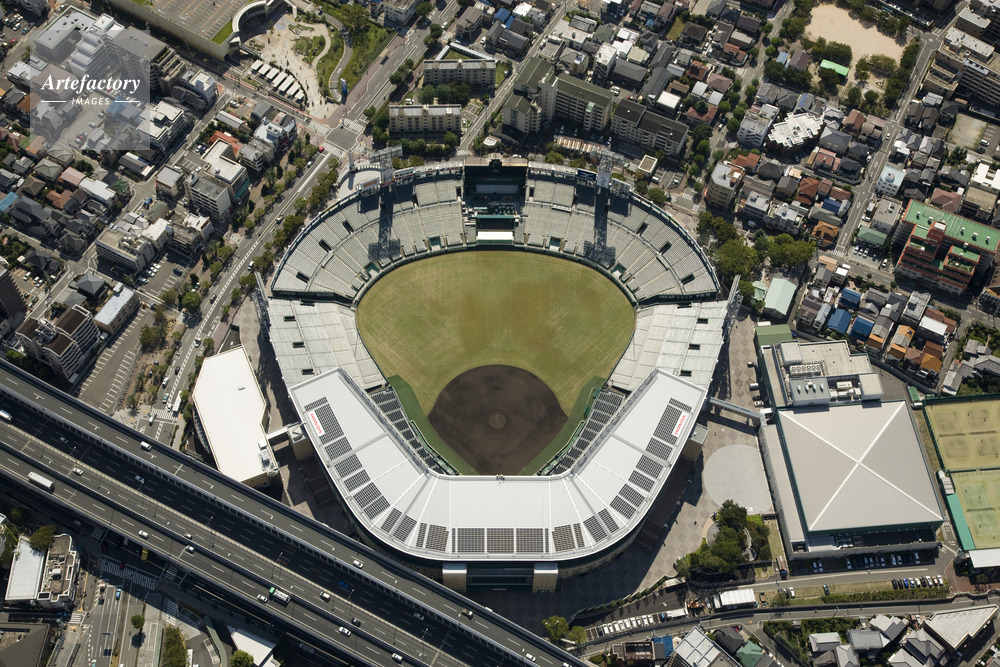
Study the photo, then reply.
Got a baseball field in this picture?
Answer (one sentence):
Yes, the image includes a baseball field.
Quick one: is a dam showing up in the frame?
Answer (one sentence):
No, no dam can be seen from above.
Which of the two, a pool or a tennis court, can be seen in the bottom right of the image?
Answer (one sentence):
The feature located in the bottom right of the image is a tennis court.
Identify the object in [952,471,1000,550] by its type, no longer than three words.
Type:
tennis court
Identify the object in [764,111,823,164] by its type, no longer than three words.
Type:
building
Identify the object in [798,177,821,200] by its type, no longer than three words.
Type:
house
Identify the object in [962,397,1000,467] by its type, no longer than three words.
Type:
tennis court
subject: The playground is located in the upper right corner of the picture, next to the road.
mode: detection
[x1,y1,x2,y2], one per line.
[806,5,903,84]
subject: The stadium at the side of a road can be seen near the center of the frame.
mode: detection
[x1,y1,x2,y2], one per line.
[266,162,727,591]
